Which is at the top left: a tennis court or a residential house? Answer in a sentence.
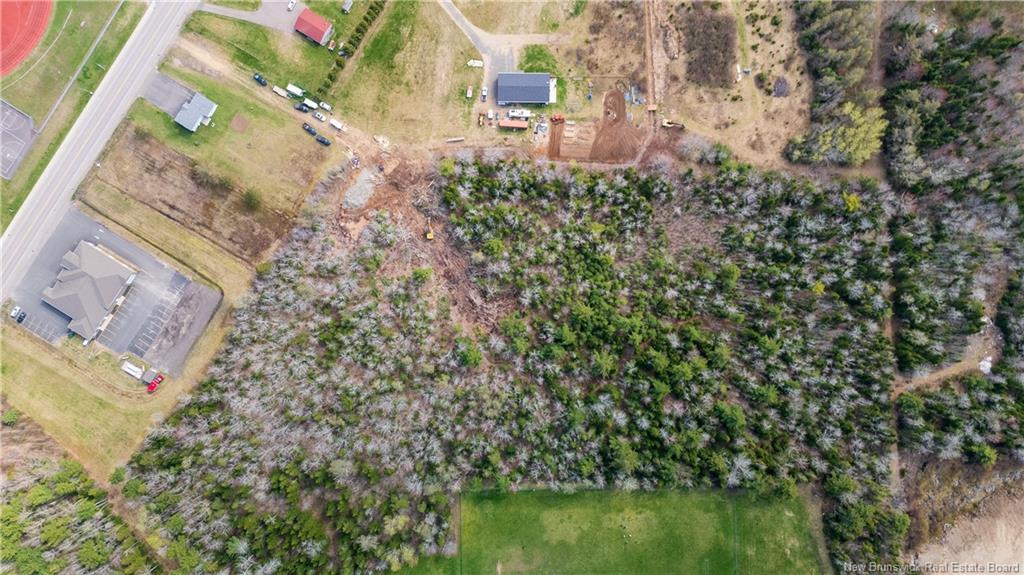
You can see a residential house at the top left.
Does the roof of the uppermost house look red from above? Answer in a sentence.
Yes, red is the color of the roof of the uppermost house.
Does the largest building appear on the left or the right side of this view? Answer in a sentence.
The largest building appears in the left half of the scene.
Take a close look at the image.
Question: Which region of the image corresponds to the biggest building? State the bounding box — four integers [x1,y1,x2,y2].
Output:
[41,239,140,340]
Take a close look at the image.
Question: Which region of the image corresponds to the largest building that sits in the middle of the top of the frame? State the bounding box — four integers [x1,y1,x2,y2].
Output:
[497,72,550,103]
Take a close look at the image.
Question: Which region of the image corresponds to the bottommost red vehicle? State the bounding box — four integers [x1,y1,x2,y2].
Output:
[148,374,164,391]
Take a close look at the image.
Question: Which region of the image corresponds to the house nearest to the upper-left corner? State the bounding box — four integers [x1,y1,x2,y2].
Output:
[175,90,220,132]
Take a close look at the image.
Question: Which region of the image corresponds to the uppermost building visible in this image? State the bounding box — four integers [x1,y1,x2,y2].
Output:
[294,8,333,45]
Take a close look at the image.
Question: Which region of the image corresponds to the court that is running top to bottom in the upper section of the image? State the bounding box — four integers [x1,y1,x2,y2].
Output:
[0,100,35,179]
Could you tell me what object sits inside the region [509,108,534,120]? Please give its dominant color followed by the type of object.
white vehicle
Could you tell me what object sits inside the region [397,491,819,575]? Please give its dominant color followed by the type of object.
green soccer field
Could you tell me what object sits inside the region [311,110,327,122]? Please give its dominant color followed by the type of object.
white vehicle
